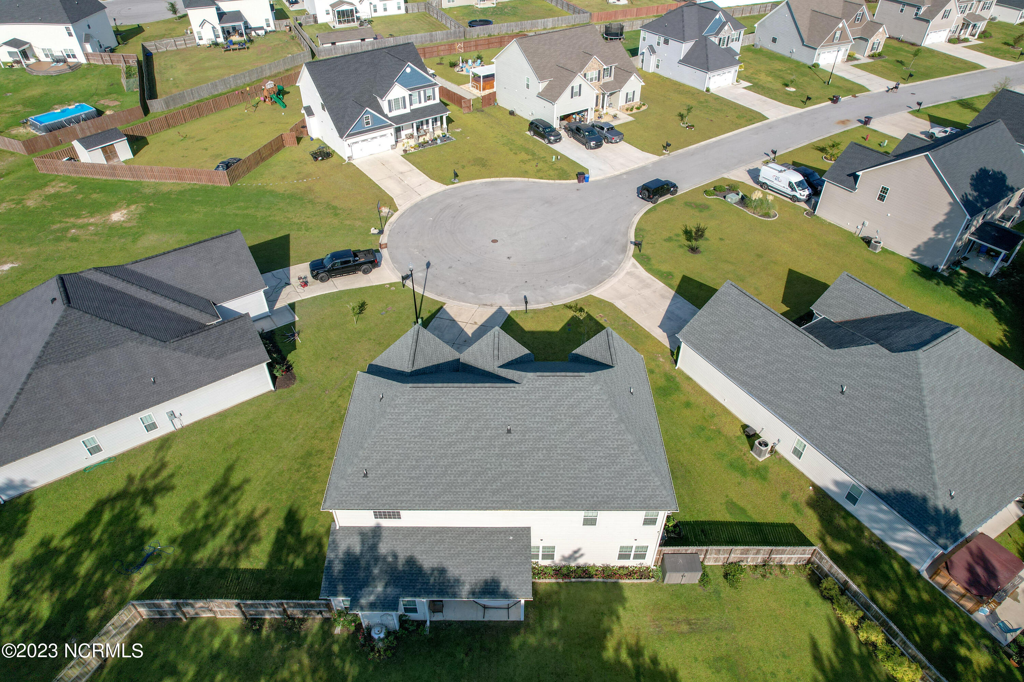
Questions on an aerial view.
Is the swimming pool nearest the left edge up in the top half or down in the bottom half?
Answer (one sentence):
You can find the swimming pool nearest the left edge in the top half.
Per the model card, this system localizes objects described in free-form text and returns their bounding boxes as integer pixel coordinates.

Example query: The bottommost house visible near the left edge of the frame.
[0,229,281,505]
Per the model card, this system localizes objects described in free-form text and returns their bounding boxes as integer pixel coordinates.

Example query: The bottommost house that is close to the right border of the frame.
[669,270,1024,573]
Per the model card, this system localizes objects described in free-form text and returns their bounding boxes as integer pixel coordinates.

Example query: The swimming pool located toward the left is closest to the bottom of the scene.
[29,102,100,134]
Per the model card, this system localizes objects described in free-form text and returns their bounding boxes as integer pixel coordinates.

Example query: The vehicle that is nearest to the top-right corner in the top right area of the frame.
[921,121,949,140]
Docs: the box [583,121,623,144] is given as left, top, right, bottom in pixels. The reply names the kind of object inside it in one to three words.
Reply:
truck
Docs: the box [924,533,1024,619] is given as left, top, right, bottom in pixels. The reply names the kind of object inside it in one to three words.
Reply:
gazebo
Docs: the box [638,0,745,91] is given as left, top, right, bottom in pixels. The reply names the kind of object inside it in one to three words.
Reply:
house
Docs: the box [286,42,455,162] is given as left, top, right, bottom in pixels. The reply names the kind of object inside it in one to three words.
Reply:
house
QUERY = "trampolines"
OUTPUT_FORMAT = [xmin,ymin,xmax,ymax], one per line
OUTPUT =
[603,23,626,43]
[468,19,493,28]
